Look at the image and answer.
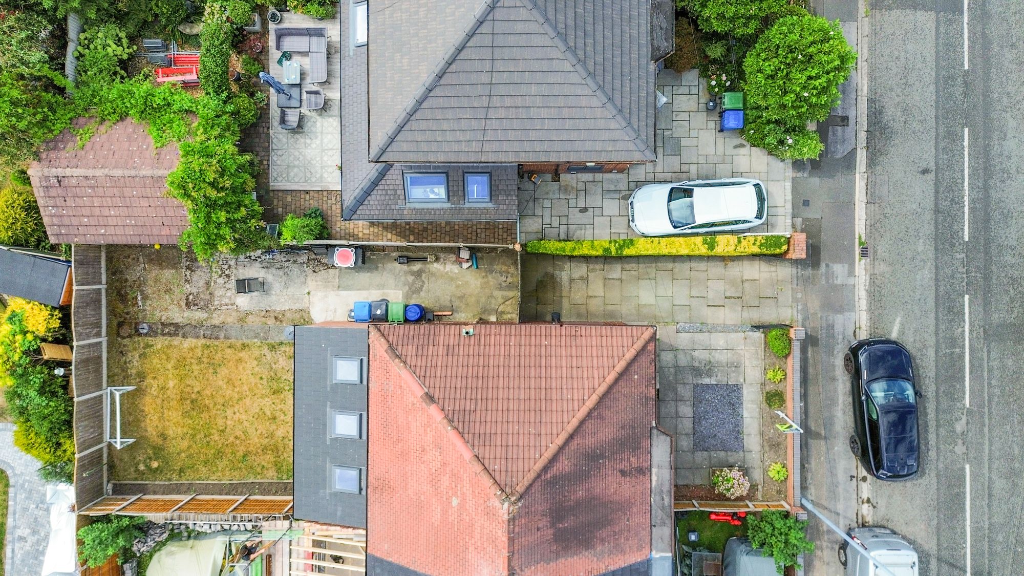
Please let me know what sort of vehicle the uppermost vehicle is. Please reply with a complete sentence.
It turns out the uppermost vehicle is a car.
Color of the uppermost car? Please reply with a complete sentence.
The color of the uppermost car is white.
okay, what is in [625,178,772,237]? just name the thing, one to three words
car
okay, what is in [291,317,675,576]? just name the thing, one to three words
house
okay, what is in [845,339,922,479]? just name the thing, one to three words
car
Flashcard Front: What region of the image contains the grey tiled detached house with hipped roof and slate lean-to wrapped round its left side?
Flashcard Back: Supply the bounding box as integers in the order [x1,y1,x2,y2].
[338,0,676,224]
